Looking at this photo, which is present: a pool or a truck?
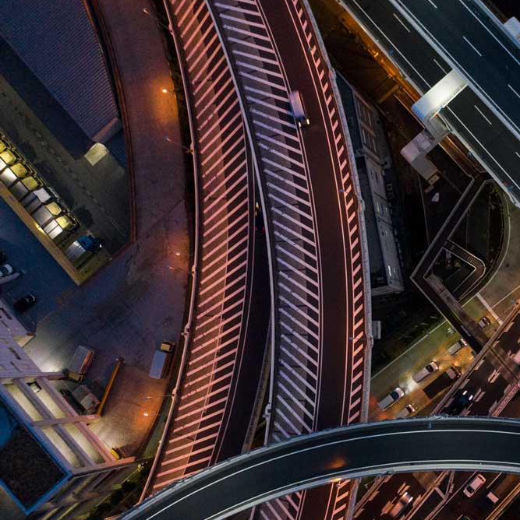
truck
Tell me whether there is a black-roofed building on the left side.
Yes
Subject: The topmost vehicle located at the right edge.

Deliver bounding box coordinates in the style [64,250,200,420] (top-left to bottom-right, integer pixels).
[478,312,497,330]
